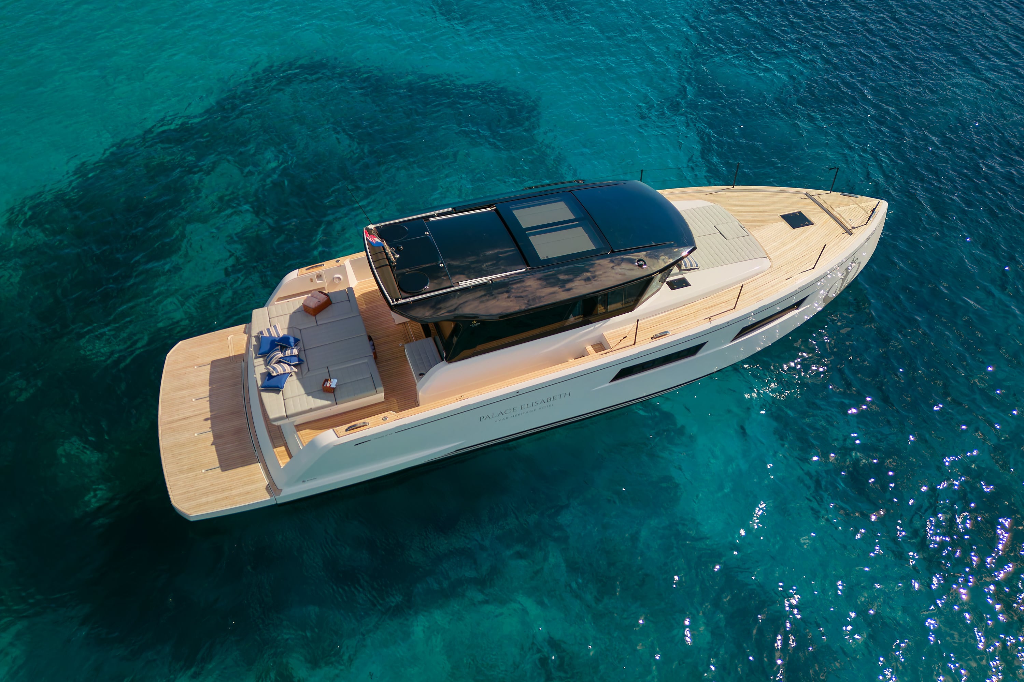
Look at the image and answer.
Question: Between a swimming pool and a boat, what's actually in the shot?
boat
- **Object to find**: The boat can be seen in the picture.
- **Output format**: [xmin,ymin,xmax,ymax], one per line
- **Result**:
[160,162,887,518]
